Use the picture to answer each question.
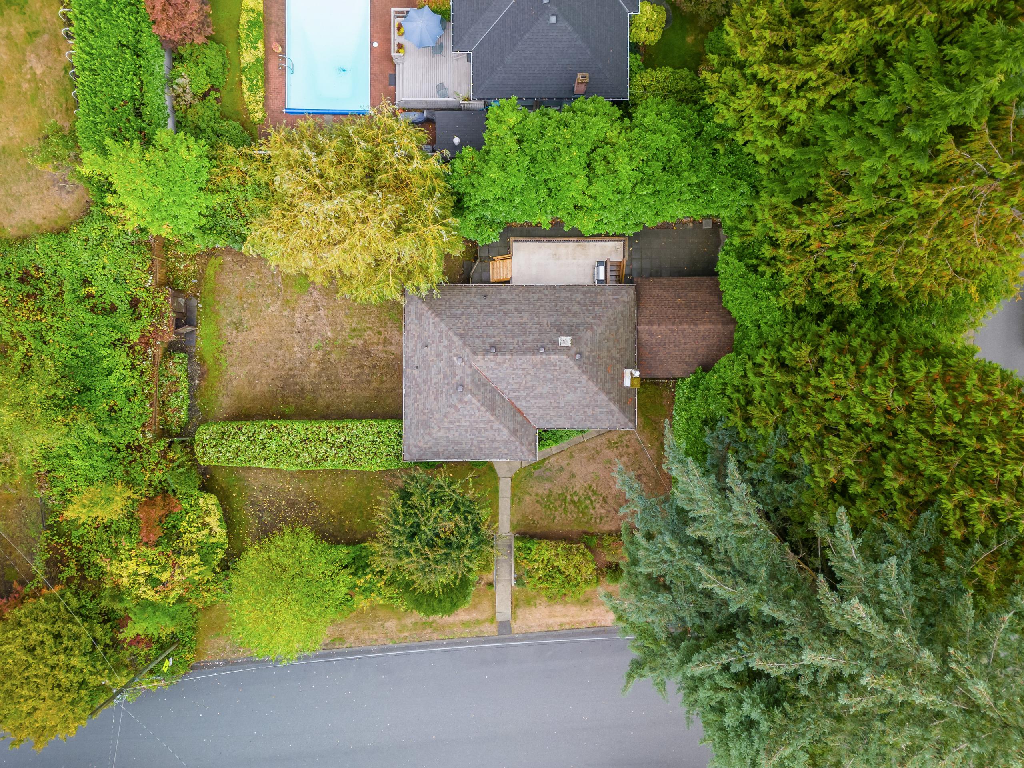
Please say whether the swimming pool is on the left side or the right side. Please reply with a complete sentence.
It is on the left.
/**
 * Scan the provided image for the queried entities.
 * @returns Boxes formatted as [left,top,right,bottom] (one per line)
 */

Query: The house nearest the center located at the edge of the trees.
[404,284,641,461]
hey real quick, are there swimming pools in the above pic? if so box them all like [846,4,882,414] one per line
[284,0,371,115]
